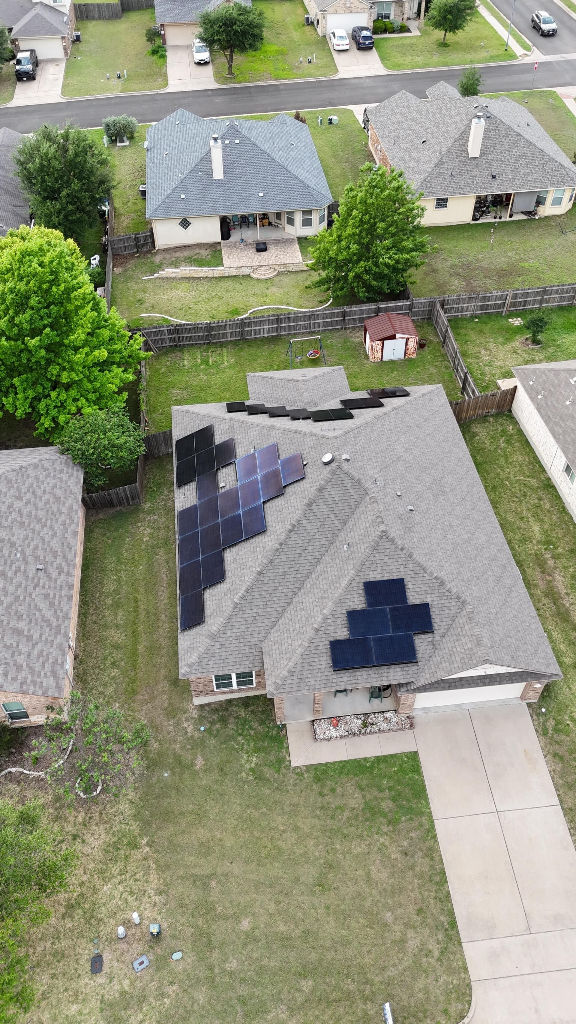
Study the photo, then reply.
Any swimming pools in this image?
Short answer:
No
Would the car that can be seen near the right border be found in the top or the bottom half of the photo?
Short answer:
top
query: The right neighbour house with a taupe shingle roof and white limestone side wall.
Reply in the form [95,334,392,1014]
[511,358,576,502]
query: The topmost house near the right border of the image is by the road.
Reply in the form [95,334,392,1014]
[367,87,576,228]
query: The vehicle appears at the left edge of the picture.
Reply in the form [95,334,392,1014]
[16,52,40,78]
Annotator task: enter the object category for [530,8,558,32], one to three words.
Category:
car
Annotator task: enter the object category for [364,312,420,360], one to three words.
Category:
shed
